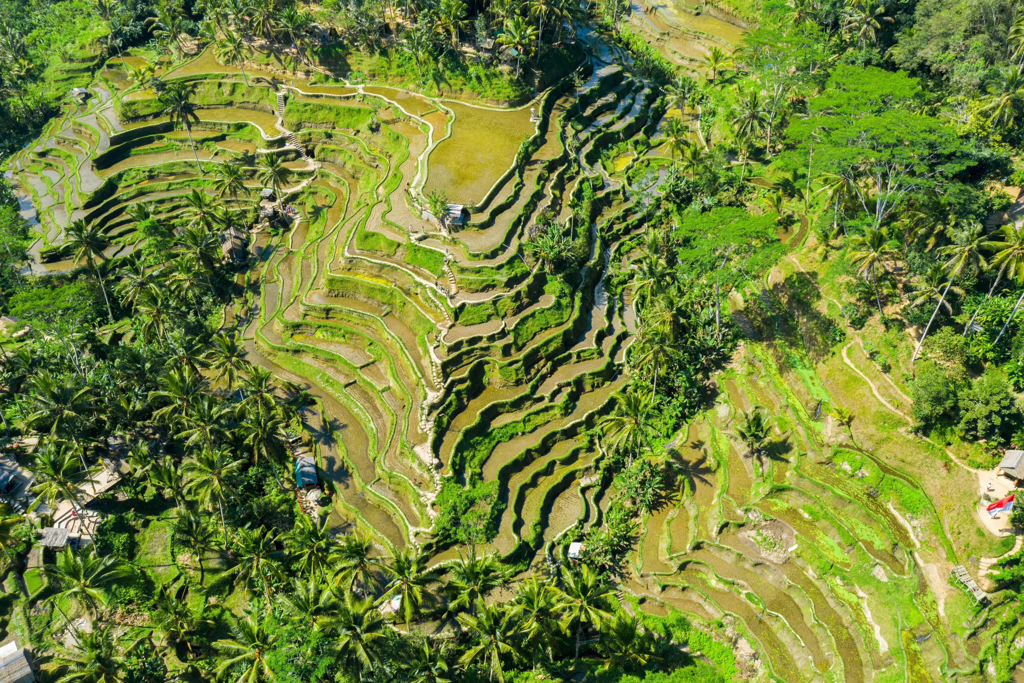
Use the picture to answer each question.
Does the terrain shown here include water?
Yes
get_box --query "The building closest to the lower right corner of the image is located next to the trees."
[991,448,1024,498]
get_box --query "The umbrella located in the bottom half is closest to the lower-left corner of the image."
[305,490,320,504]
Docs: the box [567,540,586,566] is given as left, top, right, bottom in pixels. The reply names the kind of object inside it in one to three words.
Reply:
shed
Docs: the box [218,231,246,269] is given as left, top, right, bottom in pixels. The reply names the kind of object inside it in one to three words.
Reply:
shed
